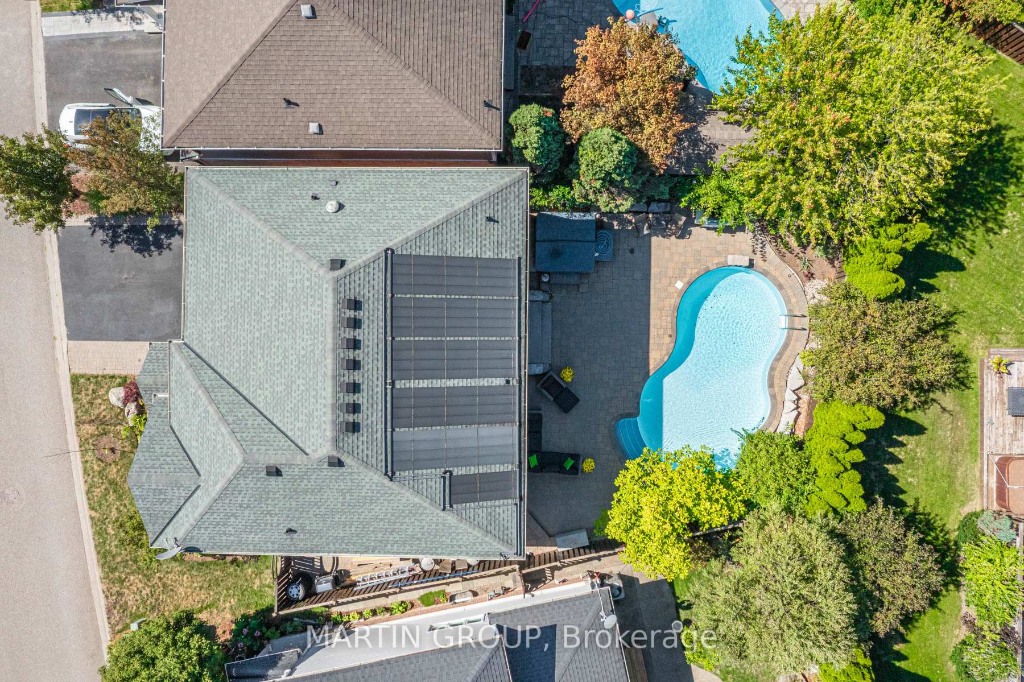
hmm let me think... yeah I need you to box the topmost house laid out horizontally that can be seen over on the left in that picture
[115,0,504,168]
